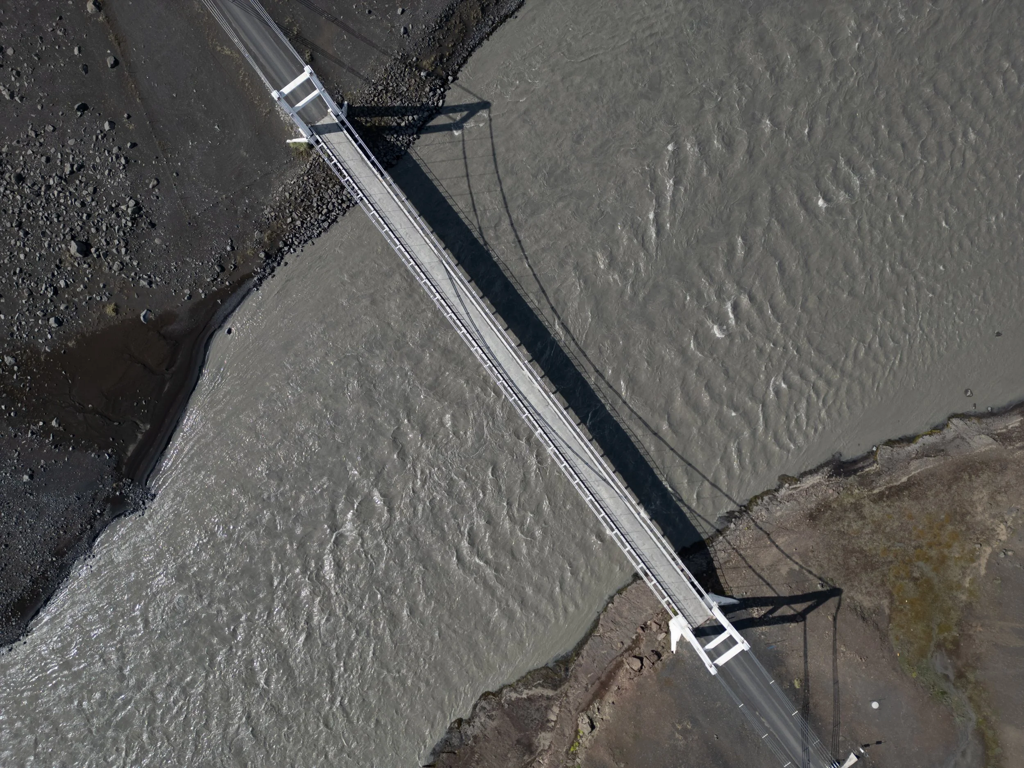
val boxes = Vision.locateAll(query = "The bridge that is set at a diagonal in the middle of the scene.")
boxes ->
[201,0,844,768]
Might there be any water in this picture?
Yes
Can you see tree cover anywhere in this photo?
No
